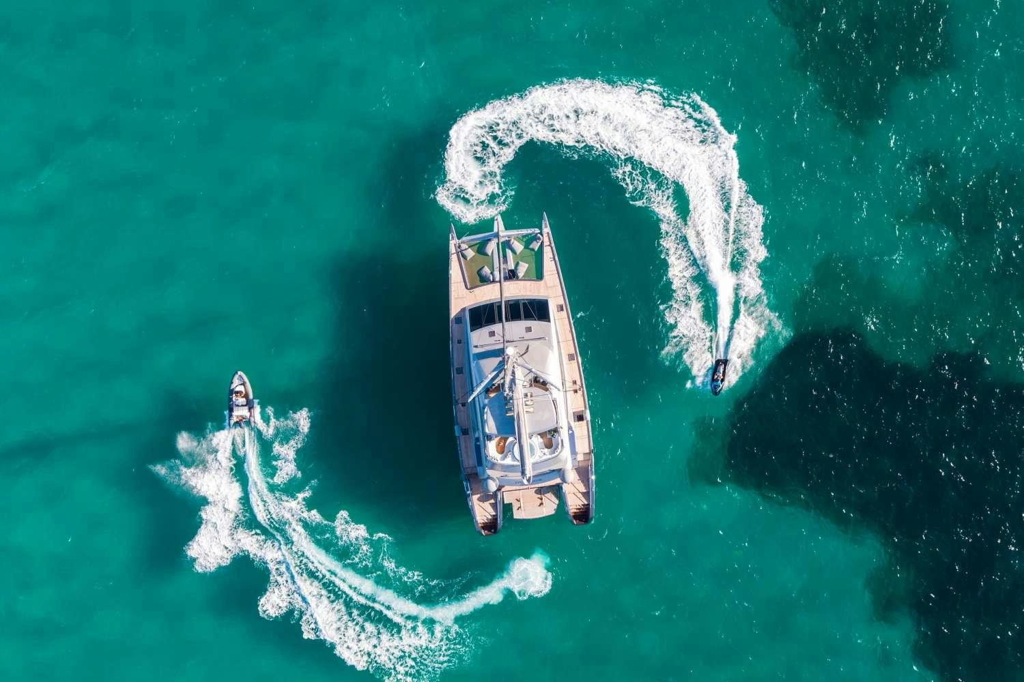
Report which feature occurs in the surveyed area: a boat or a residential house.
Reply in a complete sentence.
The one in the frame is a boat.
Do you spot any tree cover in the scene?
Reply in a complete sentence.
No, there is no tree cover in the image.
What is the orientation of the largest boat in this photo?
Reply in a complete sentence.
From this overhead view, the largest boat appears to run vertically.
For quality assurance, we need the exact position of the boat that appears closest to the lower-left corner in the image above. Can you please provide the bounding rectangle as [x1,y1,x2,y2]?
[225,368,253,431]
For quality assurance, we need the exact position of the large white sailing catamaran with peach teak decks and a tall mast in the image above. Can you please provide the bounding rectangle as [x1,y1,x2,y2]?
[451,212,593,534]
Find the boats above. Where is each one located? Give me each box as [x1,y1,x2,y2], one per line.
[225,368,253,431]
[451,212,593,534]
[712,356,731,396]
